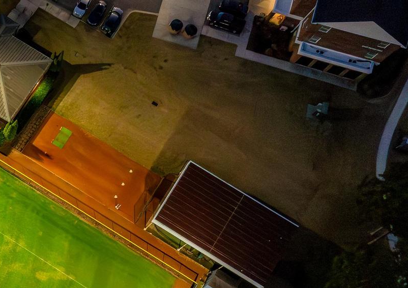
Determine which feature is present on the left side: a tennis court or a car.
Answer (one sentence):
There is a car on the left side.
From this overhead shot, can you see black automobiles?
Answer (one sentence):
Yes, there's a black automobile here.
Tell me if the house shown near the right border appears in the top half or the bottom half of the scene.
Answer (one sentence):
The house shown near the right border sits in the top half of the picture.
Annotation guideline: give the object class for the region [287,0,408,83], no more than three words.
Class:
house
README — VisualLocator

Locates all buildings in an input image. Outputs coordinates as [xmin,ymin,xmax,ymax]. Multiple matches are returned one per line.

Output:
[287,0,408,83]
[145,161,299,288]
[0,14,53,123]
